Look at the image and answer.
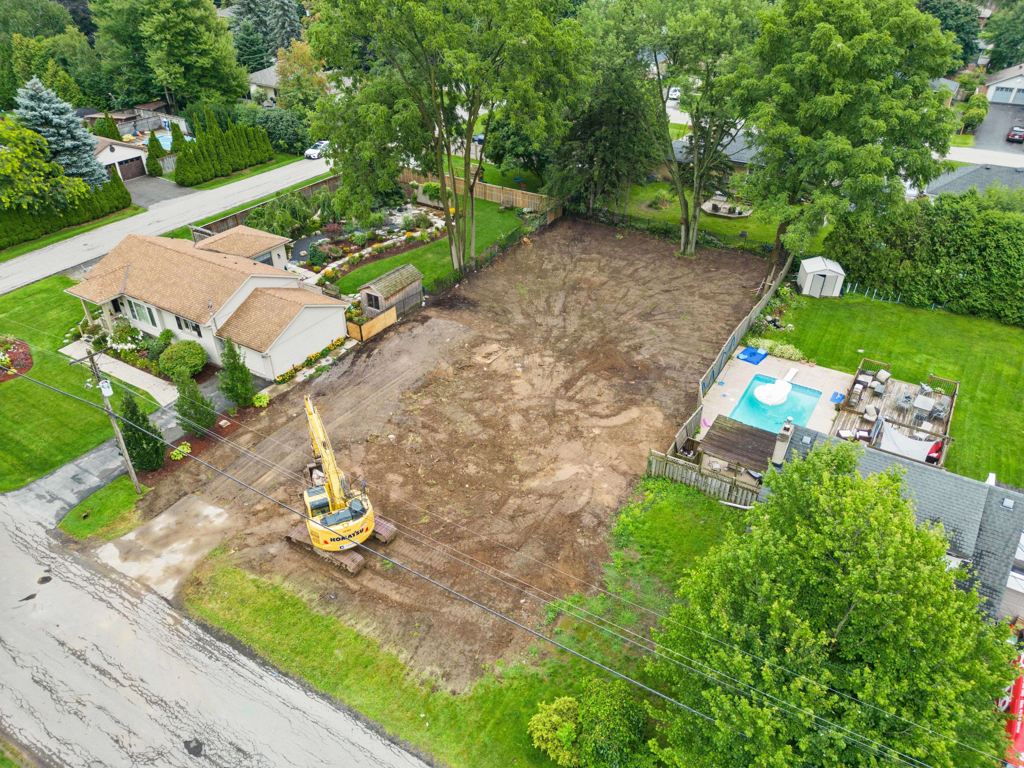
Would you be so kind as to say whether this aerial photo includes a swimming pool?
Yes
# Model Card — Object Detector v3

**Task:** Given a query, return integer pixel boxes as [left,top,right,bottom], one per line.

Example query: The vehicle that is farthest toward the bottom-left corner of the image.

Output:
[287,390,396,575]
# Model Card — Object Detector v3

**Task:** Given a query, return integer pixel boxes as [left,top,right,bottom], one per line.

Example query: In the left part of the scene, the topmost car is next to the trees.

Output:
[303,143,337,159]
